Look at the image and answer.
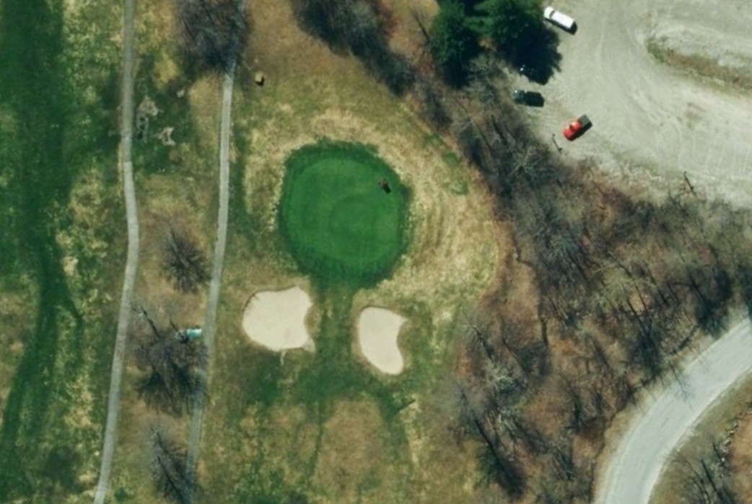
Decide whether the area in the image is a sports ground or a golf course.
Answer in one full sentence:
It's a golf course.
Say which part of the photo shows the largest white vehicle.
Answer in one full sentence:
You can find the largest white vehicle in the top right area of the picture.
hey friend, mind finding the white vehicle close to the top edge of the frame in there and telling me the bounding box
[543,7,576,34]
